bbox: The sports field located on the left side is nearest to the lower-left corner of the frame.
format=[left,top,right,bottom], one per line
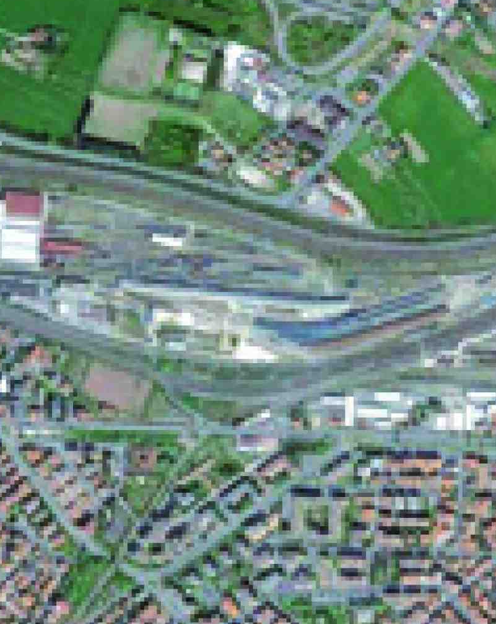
[87,364,150,409]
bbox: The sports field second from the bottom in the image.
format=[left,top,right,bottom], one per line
[82,93,159,148]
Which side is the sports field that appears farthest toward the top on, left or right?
left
